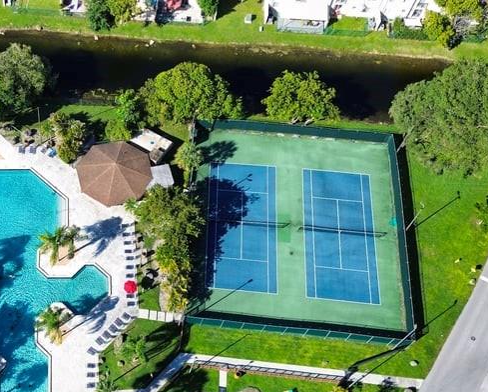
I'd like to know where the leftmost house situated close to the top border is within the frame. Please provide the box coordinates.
[270,0,329,32]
